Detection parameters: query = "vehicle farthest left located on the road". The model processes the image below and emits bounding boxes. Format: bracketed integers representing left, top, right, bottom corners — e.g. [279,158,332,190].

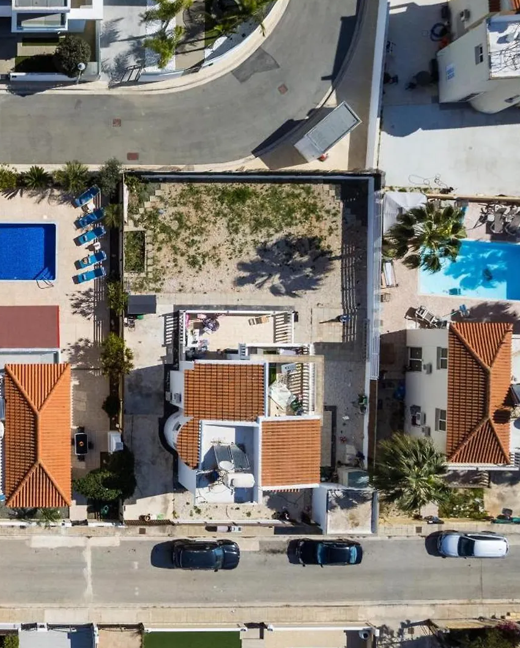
[172,538,239,572]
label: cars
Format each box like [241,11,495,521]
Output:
[172,538,239,572]
[295,536,363,569]
[436,529,510,562]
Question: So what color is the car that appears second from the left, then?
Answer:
black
